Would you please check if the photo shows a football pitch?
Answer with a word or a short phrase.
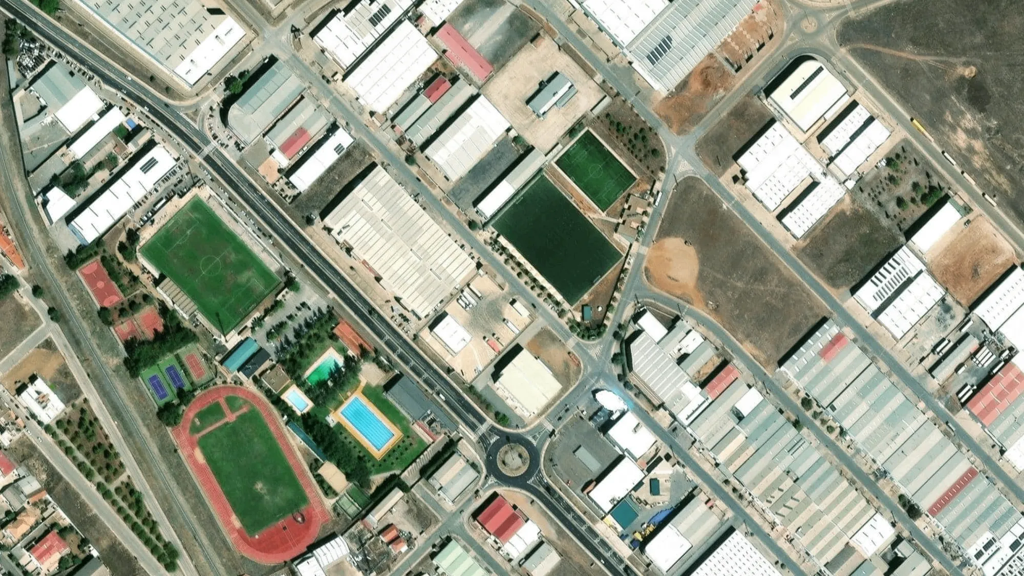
Yes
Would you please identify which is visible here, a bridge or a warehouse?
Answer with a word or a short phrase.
warehouse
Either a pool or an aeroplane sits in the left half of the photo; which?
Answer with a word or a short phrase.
pool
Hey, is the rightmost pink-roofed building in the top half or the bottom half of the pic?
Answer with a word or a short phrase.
bottom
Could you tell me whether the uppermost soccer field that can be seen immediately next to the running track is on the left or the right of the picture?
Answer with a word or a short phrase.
left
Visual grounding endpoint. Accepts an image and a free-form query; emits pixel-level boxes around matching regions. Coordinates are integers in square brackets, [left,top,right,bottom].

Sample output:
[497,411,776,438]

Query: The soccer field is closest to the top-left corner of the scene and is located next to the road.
[132,187,286,340]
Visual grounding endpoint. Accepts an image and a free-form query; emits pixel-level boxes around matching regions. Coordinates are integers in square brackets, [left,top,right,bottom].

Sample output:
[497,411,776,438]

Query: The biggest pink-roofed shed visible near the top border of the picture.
[434,23,493,82]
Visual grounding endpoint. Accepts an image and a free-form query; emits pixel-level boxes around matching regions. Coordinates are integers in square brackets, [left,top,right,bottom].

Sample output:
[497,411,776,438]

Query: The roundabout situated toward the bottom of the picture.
[486,433,539,486]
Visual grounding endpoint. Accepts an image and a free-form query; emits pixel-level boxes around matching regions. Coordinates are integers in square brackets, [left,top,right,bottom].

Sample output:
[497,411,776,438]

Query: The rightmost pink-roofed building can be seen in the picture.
[965,363,1024,428]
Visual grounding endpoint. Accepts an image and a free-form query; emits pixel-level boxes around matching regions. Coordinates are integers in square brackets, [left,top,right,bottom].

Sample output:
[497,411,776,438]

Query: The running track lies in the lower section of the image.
[171,384,329,565]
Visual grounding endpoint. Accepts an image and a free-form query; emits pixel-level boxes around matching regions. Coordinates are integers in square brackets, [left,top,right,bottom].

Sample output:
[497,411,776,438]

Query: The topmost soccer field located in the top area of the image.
[550,126,641,215]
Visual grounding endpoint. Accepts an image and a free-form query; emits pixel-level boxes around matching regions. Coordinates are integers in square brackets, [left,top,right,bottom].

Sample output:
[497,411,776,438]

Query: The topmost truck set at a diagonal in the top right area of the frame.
[912,119,936,144]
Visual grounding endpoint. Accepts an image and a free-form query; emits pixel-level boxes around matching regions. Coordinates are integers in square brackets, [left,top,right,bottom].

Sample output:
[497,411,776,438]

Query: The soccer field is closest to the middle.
[485,170,628,312]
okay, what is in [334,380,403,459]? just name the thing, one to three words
swimming pool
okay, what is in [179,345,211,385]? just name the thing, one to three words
tennis court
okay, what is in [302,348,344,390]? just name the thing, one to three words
swimming pool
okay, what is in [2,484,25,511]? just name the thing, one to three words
house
